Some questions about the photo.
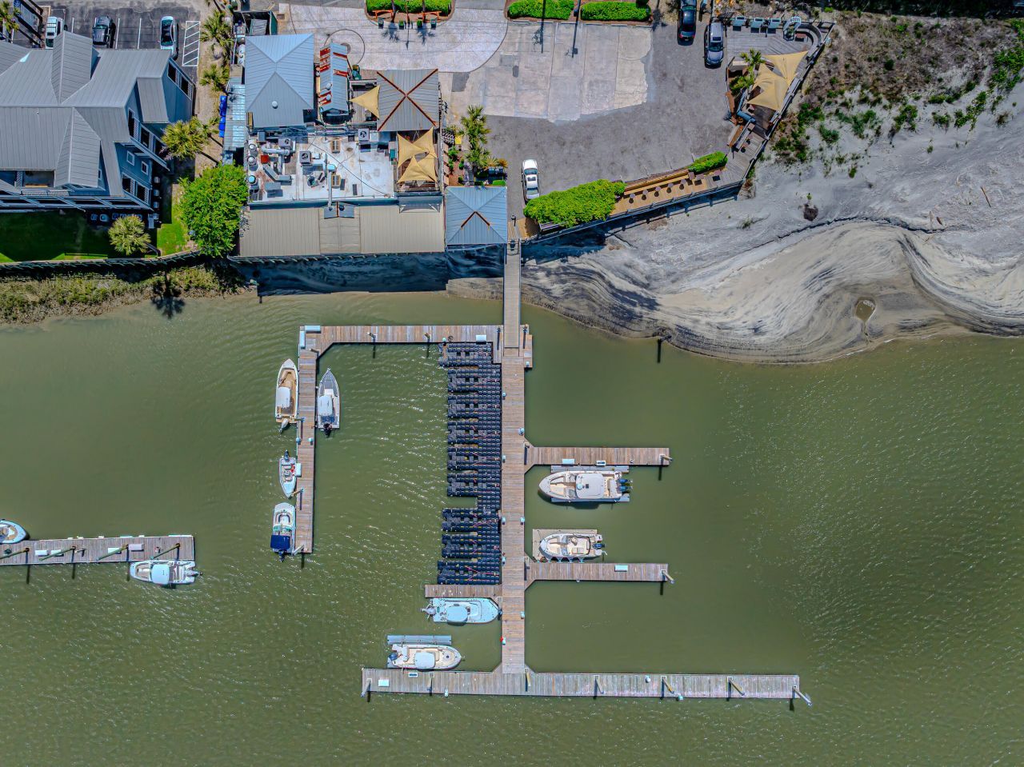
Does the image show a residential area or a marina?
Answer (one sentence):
It's a marina.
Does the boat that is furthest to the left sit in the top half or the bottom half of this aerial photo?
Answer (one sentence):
It is in the bottom half that the boat that is furthest to the left appears.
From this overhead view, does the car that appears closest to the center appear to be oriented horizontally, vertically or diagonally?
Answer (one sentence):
The car that appears closest to the center is laid out vertically.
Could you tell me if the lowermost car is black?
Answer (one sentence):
No, the color of the lowermost car is white.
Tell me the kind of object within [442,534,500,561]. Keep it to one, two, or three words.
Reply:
pier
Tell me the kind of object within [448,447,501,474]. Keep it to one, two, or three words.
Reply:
pier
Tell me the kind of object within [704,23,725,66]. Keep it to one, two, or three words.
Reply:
car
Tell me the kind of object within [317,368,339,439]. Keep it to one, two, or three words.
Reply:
boat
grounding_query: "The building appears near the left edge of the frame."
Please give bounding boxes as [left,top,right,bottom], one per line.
[0,32,193,219]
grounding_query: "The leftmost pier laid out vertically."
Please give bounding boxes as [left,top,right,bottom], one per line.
[294,345,319,553]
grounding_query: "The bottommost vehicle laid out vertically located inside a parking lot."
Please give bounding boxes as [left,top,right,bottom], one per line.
[521,159,541,203]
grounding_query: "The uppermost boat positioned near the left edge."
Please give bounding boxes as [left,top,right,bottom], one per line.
[0,521,32,546]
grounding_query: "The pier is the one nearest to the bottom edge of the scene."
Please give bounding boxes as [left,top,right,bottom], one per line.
[362,667,800,699]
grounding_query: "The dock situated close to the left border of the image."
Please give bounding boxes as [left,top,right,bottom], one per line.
[0,536,195,566]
